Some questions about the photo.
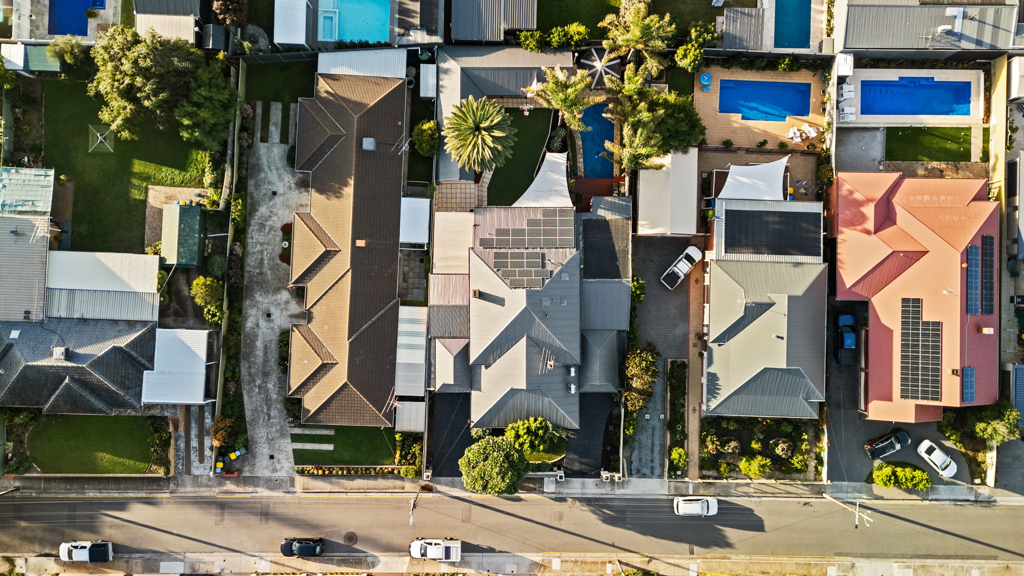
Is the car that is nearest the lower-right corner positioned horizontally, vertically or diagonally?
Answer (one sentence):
From this overhead view, the car that is nearest the lower-right corner appears to run diagonally.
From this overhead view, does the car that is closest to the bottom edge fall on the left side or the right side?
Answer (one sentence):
You can find the car that is closest to the bottom edge on the left side of the picture.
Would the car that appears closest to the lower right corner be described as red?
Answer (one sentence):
No, from above the car that appears closest to the lower right corner looks white.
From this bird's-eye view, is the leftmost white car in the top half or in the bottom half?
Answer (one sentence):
The bottom half of the photo is where the leftmost white car is.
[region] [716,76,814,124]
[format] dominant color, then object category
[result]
blue swimming pool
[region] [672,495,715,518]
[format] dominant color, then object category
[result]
white car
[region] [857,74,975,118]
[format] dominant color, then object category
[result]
blue swimming pool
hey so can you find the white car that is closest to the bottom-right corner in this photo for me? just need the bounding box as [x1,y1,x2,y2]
[915,437,957,479]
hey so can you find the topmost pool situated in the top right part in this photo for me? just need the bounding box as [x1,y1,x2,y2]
[771,0,814,52]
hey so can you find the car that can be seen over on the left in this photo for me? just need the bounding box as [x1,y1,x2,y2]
[282,536,325,559]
